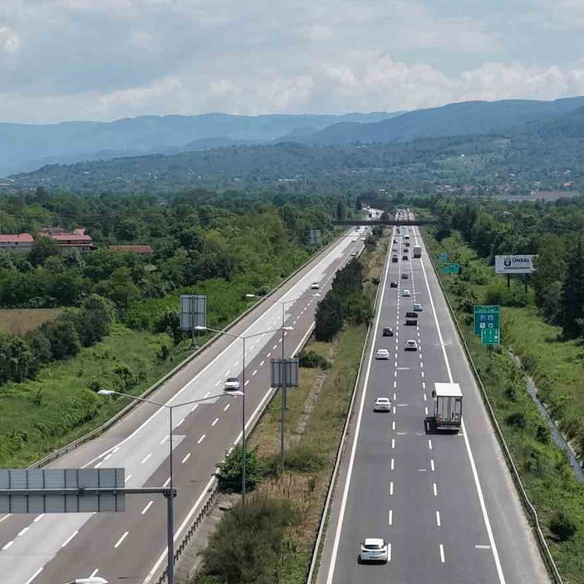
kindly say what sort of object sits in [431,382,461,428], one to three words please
truck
